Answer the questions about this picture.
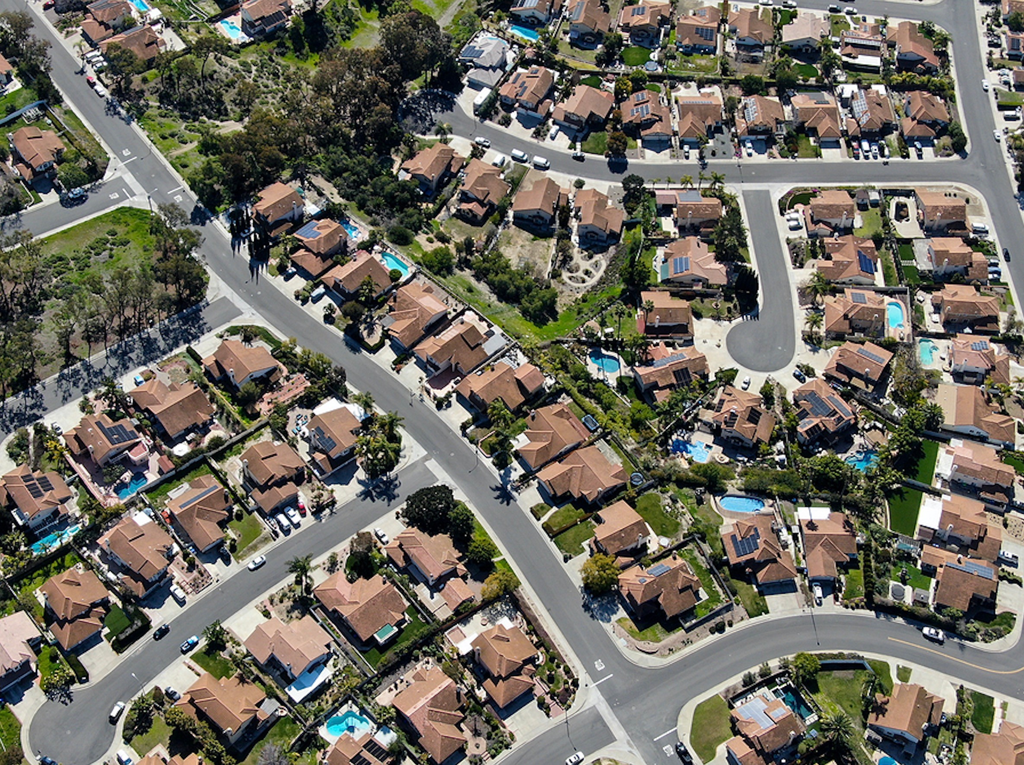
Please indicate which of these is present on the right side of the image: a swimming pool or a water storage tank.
swimming pool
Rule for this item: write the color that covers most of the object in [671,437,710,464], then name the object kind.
blue swimming pool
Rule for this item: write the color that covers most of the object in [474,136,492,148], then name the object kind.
white vehicle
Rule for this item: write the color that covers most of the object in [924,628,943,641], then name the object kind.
white vehicle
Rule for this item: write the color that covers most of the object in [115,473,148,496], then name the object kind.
blue swimming pool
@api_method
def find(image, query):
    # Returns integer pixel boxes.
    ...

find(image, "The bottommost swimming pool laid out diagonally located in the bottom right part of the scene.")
[785,689,812,718]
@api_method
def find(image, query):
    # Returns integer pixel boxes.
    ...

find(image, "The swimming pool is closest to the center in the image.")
[588,348,620,373]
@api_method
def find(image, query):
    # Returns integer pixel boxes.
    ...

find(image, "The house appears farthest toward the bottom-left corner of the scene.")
[0,606,43,686]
